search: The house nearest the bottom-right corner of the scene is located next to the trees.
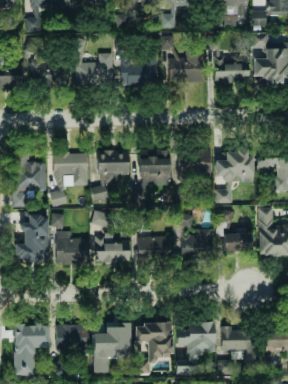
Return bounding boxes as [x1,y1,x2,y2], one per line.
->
[266,338,288,354]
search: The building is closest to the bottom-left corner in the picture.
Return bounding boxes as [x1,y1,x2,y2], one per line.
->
[14,325,50,376]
